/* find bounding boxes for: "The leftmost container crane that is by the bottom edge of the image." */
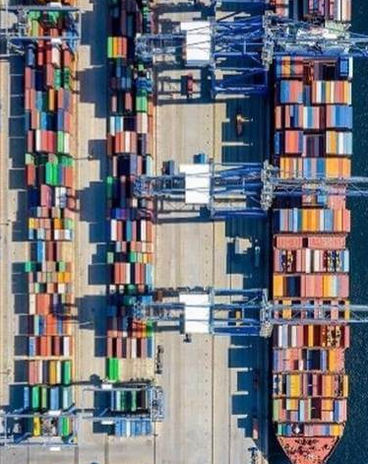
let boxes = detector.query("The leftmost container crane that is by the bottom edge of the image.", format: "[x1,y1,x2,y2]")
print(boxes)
[5,407,85,451]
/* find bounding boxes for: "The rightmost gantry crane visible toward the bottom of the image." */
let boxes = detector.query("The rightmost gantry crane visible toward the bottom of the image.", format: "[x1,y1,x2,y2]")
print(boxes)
[137,282,368,344]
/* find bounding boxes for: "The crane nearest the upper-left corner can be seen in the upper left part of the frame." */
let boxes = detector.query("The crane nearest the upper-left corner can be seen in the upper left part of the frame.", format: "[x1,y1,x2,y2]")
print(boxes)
[7,0,89,44]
